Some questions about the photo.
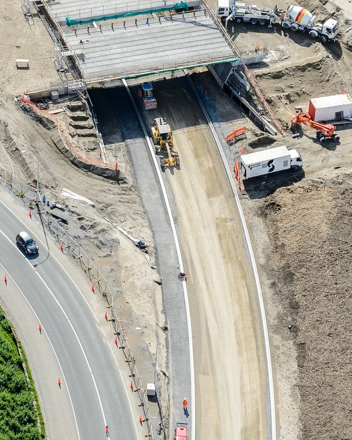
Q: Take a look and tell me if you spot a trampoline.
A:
No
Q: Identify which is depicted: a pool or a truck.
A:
truck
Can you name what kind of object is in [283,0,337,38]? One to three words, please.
truck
